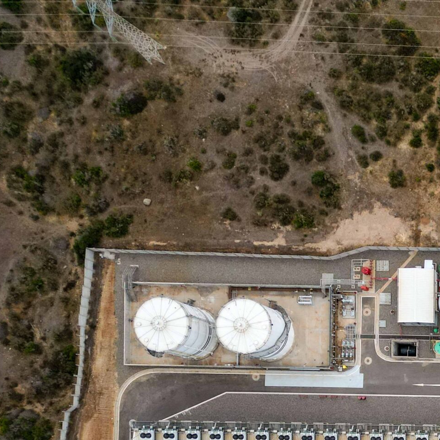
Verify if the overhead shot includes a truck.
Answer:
No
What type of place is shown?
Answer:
industrial area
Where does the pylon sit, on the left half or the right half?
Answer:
left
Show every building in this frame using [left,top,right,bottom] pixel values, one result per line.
[129,419,440,440]
[399,267,437,326]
